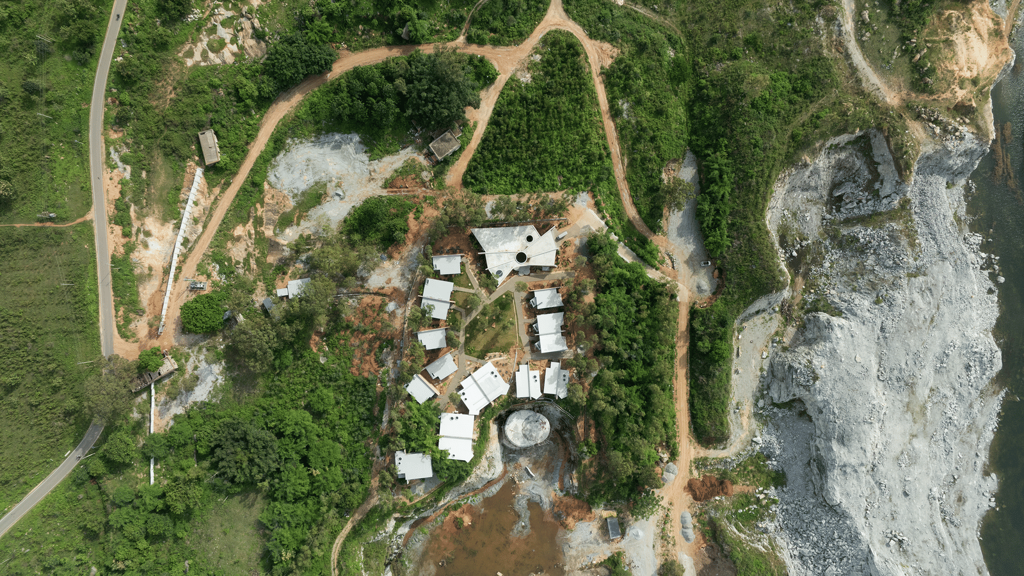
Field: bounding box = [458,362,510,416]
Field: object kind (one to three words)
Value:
house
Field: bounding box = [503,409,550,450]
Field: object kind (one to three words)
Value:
building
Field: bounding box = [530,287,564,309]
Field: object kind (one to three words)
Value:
house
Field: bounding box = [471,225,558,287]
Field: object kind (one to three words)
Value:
building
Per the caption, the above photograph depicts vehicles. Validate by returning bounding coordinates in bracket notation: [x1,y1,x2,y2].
[701,261,711,266]
[556,232,567,240]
